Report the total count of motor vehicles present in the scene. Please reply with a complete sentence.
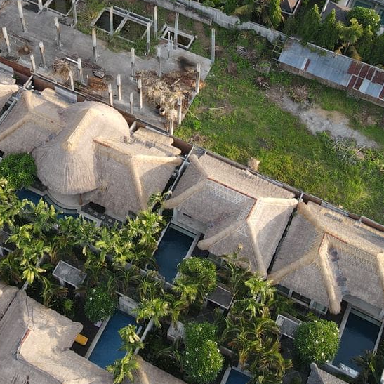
There are no motor vehicles in the image.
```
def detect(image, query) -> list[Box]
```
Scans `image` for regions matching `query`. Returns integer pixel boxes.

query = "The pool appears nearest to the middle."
[142,223,202,283]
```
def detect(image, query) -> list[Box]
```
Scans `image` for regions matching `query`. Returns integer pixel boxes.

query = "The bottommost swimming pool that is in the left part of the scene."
[88,304,148,375]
